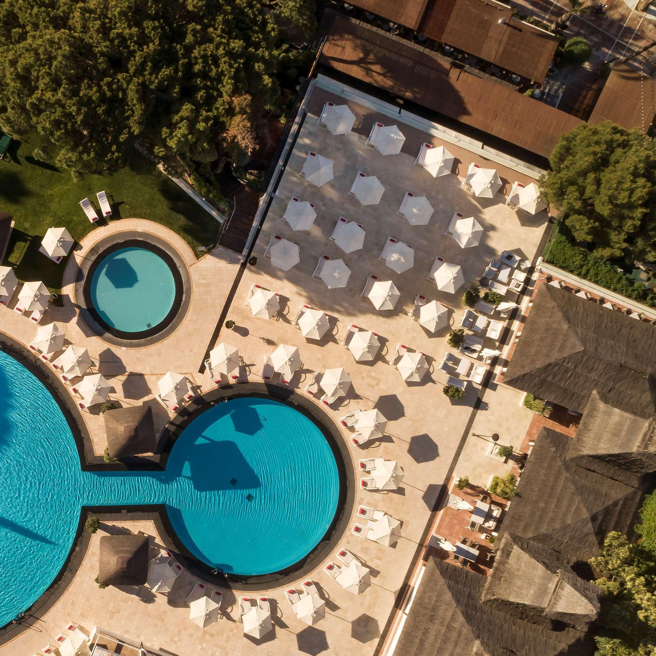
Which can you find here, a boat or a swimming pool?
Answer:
swimming pool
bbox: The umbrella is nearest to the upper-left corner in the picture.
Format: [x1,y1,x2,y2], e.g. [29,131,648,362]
[43,225,74,258]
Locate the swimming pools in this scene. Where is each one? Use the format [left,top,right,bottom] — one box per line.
[90,247,176,332]
[0,350,341,630]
